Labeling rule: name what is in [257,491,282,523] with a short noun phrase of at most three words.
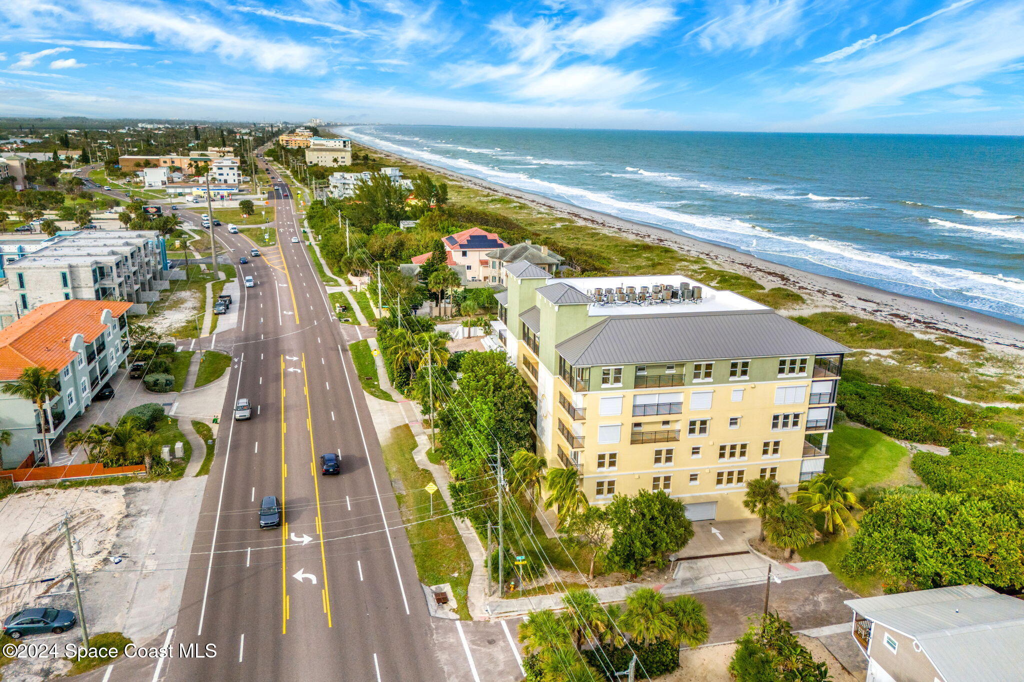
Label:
car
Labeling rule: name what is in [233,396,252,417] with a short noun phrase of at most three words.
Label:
car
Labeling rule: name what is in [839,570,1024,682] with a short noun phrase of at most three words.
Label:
house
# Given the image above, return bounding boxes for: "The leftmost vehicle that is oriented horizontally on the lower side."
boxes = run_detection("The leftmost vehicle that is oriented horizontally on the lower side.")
[1,607,74,641]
